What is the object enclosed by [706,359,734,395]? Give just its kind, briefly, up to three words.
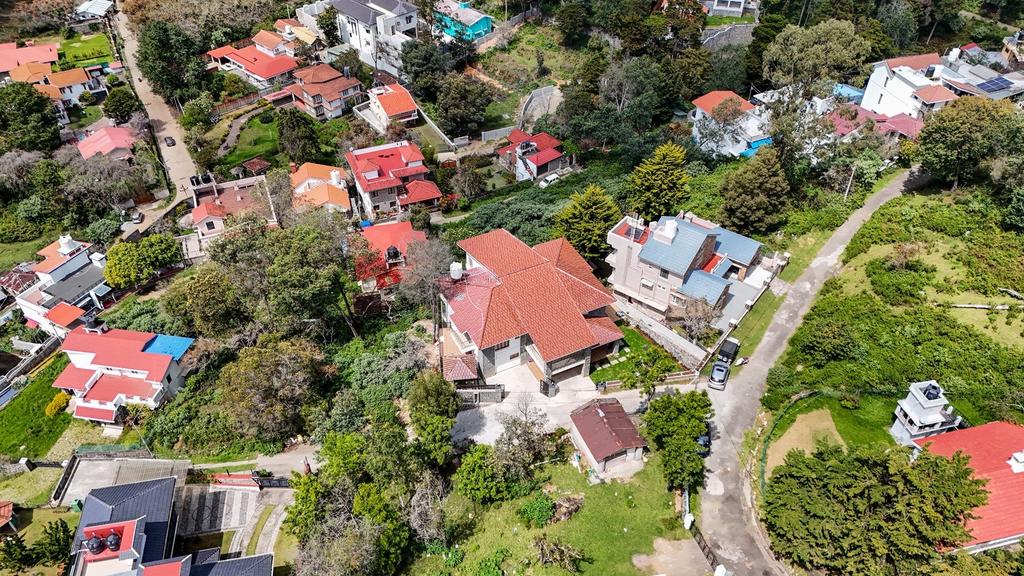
car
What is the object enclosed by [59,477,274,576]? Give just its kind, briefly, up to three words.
house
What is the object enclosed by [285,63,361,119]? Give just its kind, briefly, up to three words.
house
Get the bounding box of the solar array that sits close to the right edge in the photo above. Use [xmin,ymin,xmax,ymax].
[973,73,1018,94]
